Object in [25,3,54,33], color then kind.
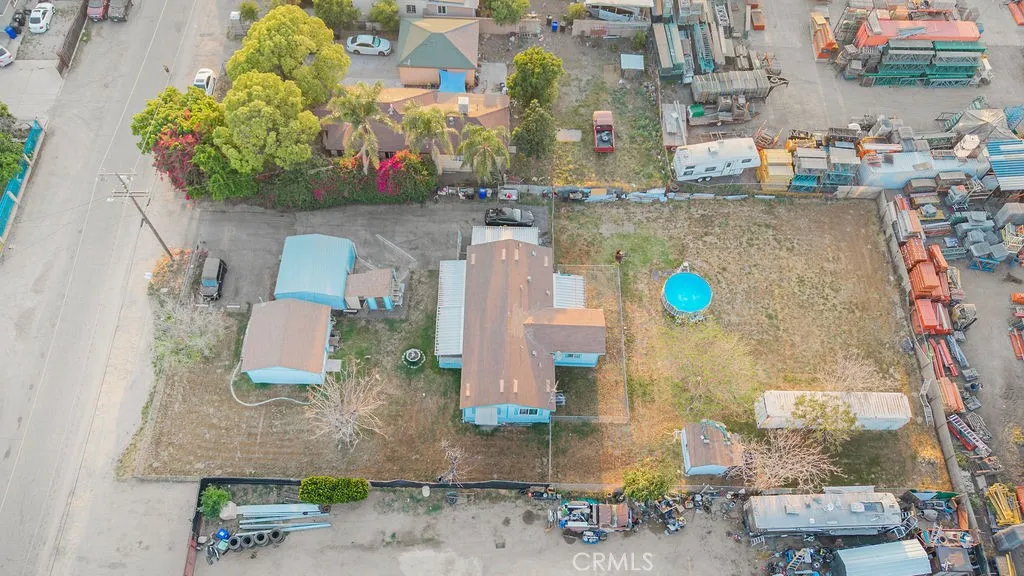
white car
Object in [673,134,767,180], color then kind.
white trailer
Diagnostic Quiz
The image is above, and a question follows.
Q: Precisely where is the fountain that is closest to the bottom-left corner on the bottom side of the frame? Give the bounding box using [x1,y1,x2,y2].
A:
[400,349,428,375]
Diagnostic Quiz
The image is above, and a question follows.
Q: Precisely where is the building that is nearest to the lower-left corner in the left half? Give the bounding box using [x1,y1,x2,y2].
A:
[242,293,339,382]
